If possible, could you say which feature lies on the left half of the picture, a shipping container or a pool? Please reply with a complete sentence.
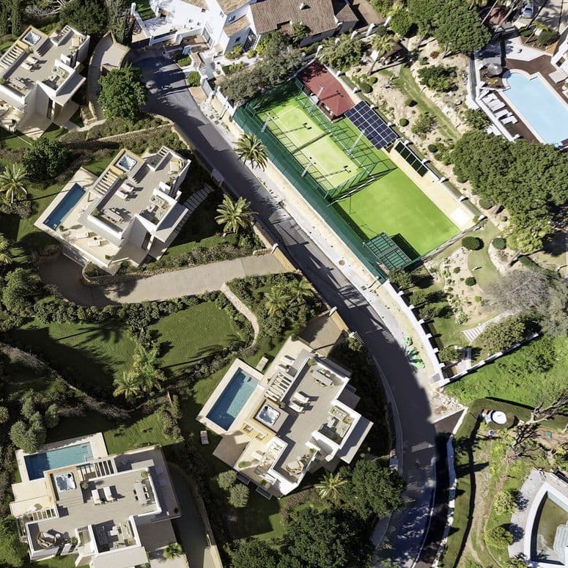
You can see a pool on the left half of the picture.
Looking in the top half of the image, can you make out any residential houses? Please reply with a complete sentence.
Yes, a residential house can be seen in the top half of the image.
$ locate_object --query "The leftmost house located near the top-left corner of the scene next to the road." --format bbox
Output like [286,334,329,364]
[0,27,102,144]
